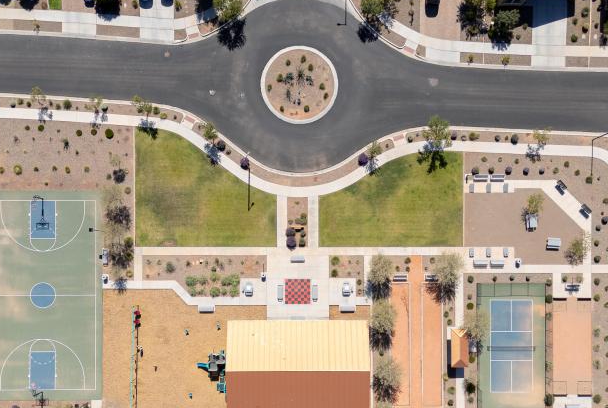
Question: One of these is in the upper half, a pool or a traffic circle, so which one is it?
traffic circle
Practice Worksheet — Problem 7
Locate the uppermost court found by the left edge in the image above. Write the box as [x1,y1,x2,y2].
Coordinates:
[0,190,102,401]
